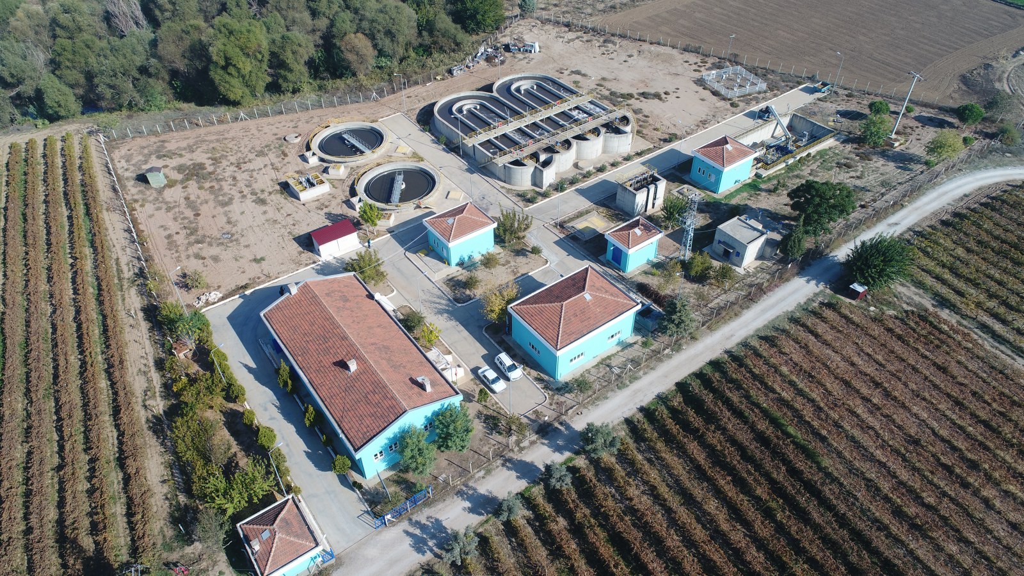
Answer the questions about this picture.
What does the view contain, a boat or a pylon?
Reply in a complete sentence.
The image shows a pylon.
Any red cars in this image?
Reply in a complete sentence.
No, I can see no red car in this picture.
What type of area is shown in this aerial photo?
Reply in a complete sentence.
It's an industrial area.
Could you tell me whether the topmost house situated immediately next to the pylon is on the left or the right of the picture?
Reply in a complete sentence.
It is on the right.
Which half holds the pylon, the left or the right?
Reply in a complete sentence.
The pylon is on the right side of the image.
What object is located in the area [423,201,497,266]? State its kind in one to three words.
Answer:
building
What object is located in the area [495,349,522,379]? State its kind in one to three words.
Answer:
car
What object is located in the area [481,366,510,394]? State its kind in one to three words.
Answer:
car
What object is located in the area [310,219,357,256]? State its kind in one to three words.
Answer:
shed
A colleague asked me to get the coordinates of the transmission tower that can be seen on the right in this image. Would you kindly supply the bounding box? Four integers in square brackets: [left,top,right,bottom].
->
[680,193,712,261]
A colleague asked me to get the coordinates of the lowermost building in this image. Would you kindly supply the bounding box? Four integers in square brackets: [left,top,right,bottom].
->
[237,493,323,576]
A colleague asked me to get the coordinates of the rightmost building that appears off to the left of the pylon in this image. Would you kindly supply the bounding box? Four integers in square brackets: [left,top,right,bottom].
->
[602,216,667,275]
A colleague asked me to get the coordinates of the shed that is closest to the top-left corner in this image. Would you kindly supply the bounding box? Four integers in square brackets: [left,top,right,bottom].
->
[140,169,164,188]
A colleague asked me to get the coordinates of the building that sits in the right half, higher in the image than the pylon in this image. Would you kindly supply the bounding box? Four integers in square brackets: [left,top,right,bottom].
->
[688,134,760,193]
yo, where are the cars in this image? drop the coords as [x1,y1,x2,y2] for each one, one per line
[495,349,522,379]
[481,366,510,394]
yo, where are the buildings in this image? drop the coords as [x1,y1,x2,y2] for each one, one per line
[423,201,497,266]
[310,219,357,256]
[237,493,323,576]
[602,216,667,275]
[712,212,773,265]
[846,280,872,303]
[507,265,642,380]
[140,169,164,188]
[259,272,462,476]
[688,134,760,193]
